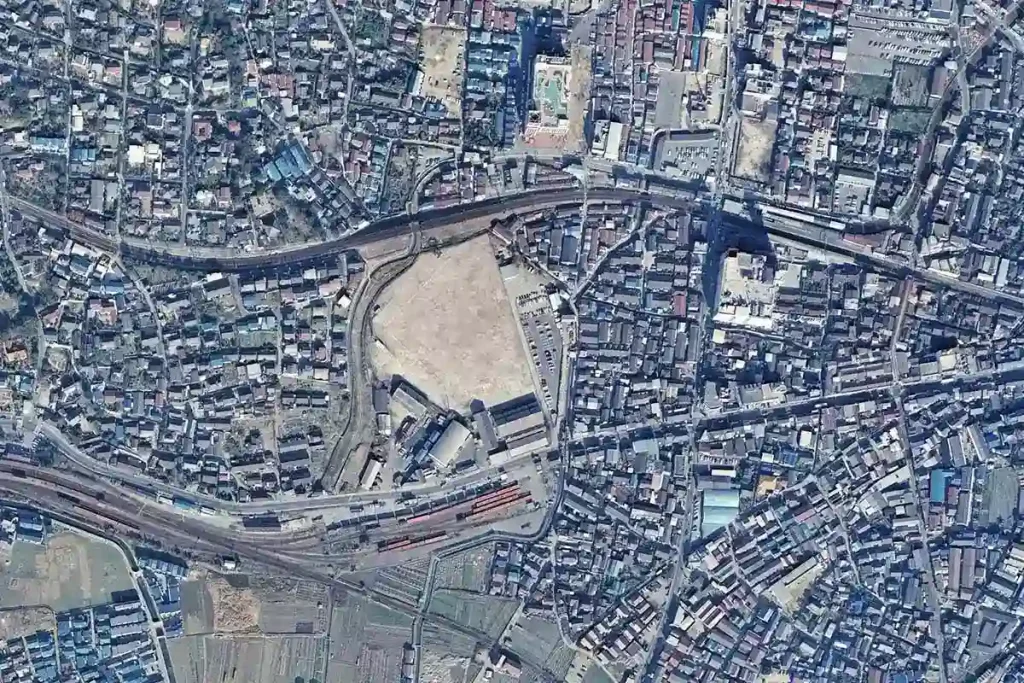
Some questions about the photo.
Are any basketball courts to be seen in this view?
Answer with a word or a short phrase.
No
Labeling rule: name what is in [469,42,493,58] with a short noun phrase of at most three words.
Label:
house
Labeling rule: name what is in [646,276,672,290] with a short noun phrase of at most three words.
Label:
house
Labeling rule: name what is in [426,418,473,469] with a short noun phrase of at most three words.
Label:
building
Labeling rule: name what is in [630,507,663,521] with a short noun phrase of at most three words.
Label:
building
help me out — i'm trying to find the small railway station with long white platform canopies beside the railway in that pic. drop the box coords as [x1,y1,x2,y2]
[762,208,875,260]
